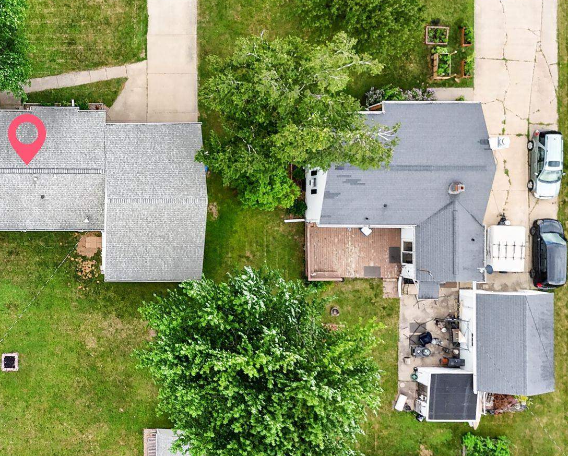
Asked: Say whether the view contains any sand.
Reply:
No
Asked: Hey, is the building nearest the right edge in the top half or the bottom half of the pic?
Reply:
bottom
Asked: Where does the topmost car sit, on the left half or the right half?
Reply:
right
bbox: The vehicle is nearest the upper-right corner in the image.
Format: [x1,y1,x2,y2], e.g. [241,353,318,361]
[523,133,563,198]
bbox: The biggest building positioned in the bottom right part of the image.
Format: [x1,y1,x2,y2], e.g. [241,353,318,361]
[458,282,553,398]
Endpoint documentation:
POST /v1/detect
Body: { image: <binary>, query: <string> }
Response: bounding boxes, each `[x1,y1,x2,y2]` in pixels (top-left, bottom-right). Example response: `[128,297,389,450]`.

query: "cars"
[523,133,563,198]
[525,220,567,288]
